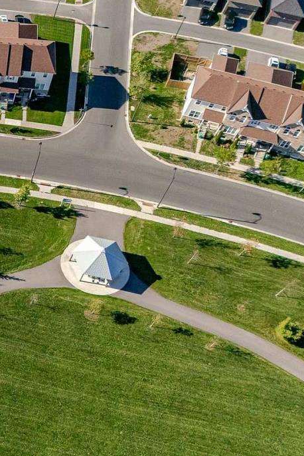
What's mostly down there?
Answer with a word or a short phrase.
grass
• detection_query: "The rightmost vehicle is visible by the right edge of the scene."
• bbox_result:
[283,58,296,74]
